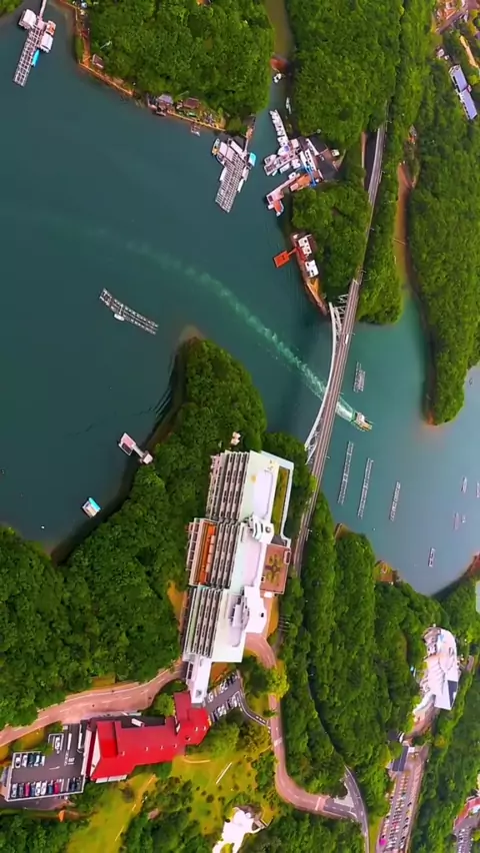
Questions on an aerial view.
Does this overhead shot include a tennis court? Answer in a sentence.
No, I can't see a single tennis court in this photo.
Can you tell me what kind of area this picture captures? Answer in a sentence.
This looks like a port.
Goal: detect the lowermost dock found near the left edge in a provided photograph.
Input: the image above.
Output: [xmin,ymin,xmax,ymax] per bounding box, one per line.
[13,18,45,90]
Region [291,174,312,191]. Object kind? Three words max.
ship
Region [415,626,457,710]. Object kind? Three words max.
building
